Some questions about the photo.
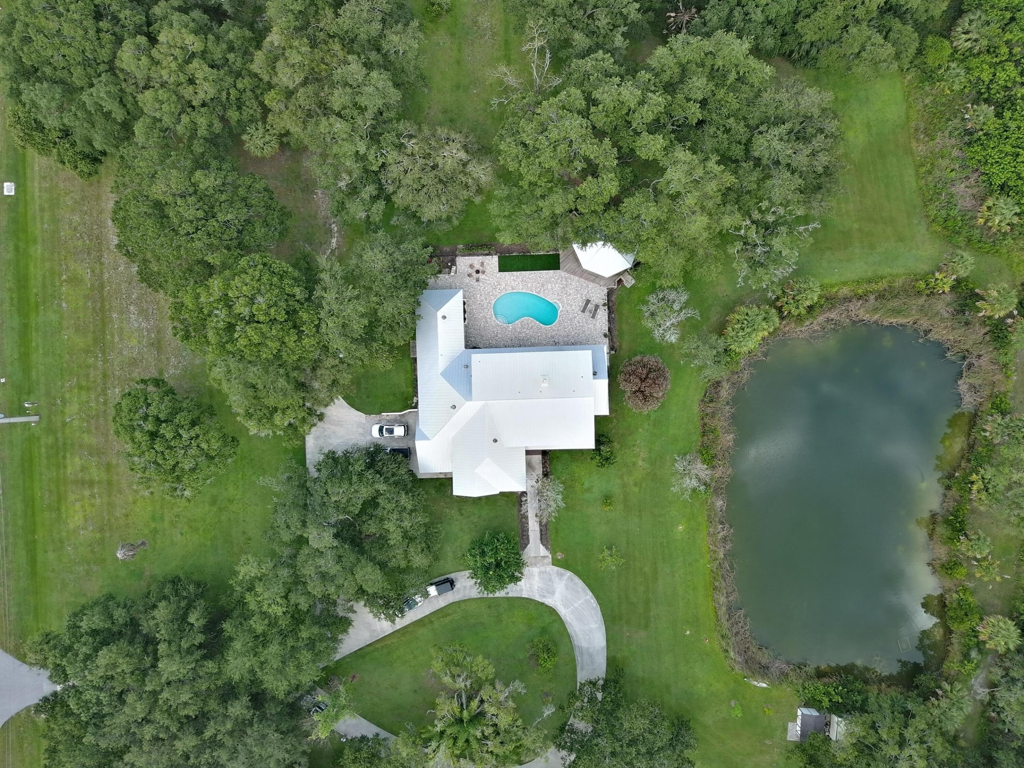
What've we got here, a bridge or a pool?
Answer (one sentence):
This aerial view contains a pool.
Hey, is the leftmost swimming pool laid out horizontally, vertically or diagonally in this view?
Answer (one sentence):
The leftmost swimming pool is laid out horizontally.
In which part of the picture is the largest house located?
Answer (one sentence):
The largest house is in the center part of the image.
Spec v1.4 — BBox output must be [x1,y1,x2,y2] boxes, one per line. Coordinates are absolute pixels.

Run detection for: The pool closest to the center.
[491,290,563,327]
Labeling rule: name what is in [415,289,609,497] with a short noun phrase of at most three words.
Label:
house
